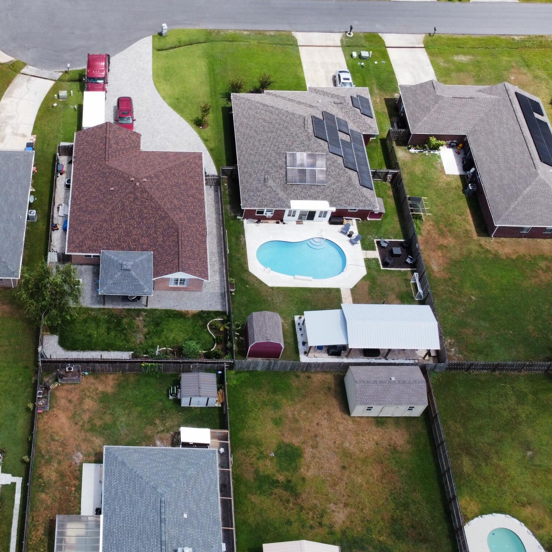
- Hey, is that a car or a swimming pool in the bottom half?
swimming pool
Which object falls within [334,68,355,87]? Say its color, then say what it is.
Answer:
white car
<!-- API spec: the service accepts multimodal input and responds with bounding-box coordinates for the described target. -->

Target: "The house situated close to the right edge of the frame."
[398,79,552,240]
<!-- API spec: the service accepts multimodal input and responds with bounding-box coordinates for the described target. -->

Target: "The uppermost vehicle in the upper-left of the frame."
[82,48,110,107]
